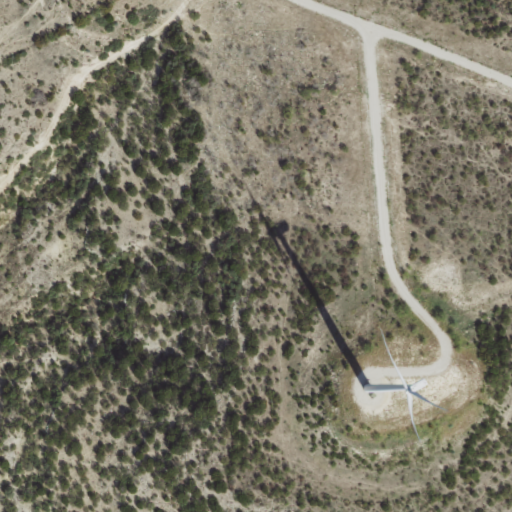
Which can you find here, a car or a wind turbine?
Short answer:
wind turbine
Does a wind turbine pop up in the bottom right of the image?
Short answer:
Yes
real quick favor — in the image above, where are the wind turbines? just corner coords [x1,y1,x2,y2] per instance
[362,327,449,436]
